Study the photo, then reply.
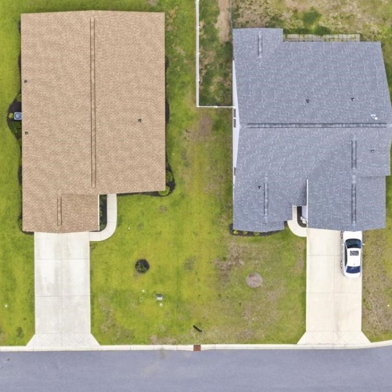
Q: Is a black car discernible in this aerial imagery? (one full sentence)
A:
No, I find no black car anywhere in the image.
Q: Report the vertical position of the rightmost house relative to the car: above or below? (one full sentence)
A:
As seen from overhead, the rightmost house falls above the car in the picture.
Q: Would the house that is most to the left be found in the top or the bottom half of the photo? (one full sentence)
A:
The house that is most to the left sits in the top half of the picture.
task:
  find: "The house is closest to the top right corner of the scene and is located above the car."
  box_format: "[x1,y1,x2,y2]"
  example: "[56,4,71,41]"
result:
[230,28,392,233]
